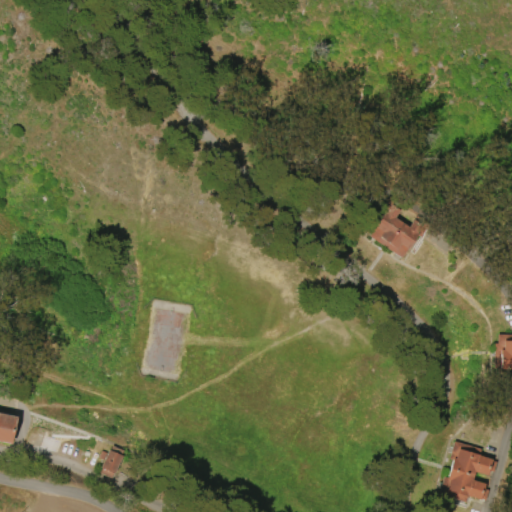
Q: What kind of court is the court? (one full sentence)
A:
Looking closely, the court is a basketball court.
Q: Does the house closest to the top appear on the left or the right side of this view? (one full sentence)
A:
You can find the house closest to the top on the right side of the picture.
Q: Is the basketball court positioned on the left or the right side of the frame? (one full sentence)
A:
The basketball court appears in the left half of the scene.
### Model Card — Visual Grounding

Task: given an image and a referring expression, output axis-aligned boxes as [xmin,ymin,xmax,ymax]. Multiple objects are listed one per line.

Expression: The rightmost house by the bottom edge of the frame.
[442,440,500,504]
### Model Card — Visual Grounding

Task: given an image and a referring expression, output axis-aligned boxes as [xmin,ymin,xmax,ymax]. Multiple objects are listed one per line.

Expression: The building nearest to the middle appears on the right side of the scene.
[372,206,428,258]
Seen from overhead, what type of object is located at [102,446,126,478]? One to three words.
house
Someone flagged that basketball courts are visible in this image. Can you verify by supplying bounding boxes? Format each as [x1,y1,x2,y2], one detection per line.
[142,300,192,379]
